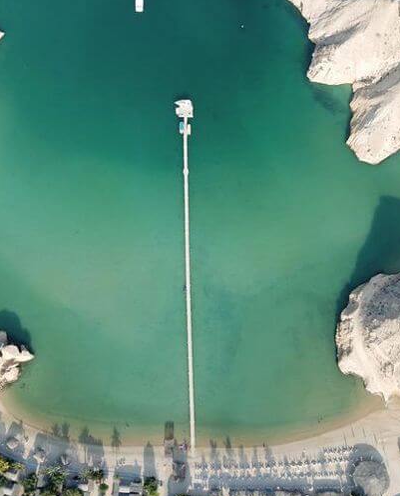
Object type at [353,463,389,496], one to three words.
building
